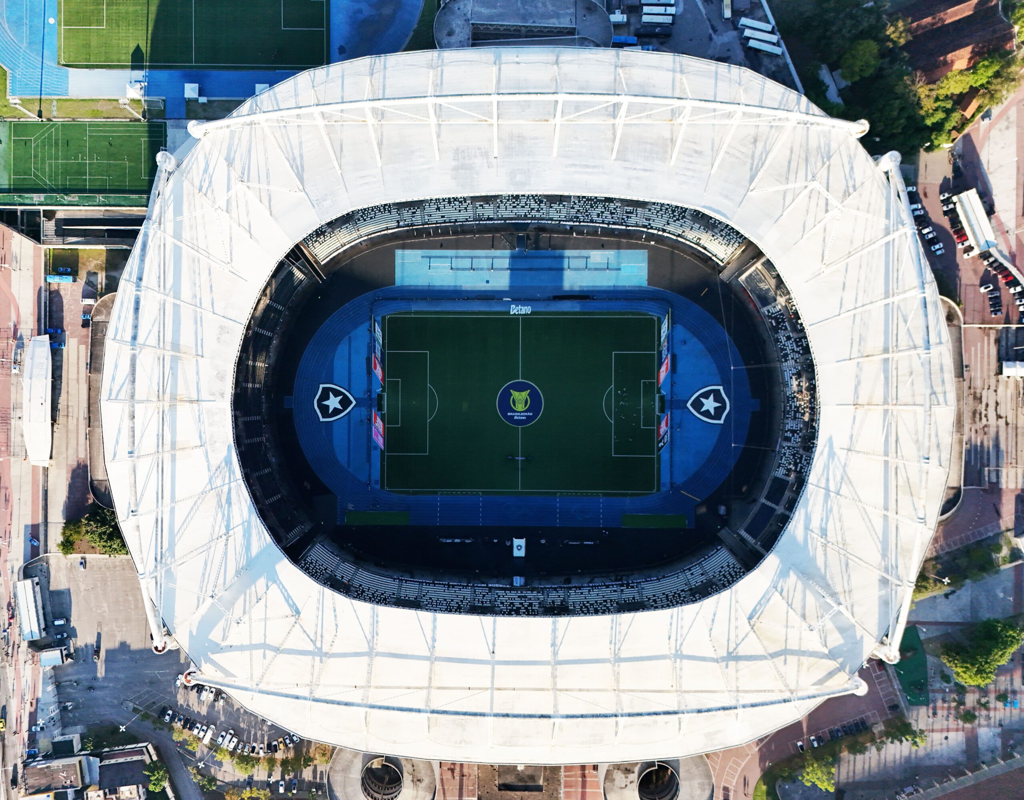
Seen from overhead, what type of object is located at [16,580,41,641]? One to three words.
building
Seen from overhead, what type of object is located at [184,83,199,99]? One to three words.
gazebo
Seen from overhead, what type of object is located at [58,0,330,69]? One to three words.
soccer field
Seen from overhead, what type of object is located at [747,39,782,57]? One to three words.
vehicle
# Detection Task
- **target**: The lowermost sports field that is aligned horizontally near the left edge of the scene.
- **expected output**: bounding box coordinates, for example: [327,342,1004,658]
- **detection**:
[9,121,167,193]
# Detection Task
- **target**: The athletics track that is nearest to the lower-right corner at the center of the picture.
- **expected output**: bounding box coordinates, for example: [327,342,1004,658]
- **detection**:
[285,285,759,528]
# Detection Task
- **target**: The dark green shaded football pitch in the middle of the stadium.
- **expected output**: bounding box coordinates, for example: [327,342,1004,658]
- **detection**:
[380,311,661,497]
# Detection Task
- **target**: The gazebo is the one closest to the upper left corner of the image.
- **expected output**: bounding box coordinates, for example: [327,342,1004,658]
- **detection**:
[126,84,144,99]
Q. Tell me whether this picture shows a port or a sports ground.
sports ground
